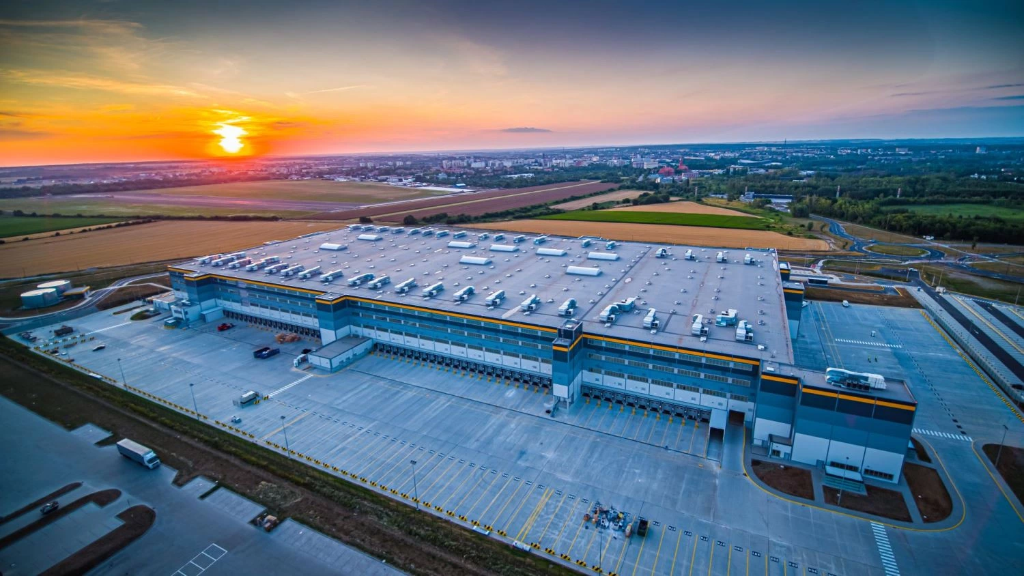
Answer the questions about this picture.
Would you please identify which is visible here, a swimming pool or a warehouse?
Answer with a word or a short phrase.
warehouse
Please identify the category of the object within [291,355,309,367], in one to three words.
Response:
vehicle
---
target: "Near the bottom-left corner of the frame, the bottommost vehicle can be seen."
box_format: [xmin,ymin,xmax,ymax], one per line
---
[32,501,63,515]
